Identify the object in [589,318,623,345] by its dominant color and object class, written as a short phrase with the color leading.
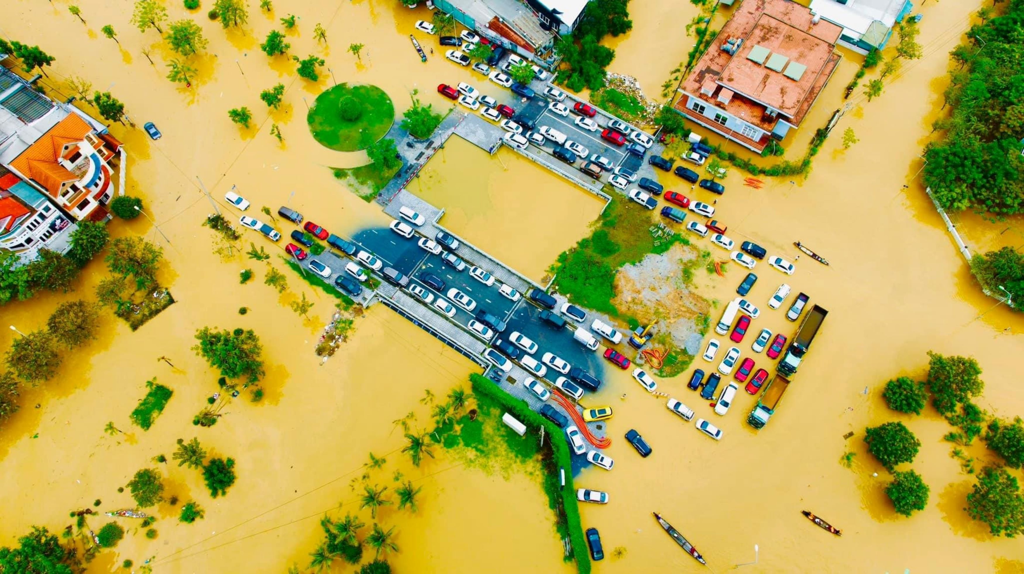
white truck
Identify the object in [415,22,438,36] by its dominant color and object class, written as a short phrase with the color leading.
white car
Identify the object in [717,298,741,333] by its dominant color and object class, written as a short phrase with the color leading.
white vehicle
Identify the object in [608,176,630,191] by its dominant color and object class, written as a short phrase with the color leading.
white car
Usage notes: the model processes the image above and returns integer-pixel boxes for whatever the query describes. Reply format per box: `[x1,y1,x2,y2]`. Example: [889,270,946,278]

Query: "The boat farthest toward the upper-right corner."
[793,241,830,266]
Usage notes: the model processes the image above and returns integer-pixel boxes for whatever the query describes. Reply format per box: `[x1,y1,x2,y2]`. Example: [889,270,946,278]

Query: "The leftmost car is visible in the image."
[143,121,162,140]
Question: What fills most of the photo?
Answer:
water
